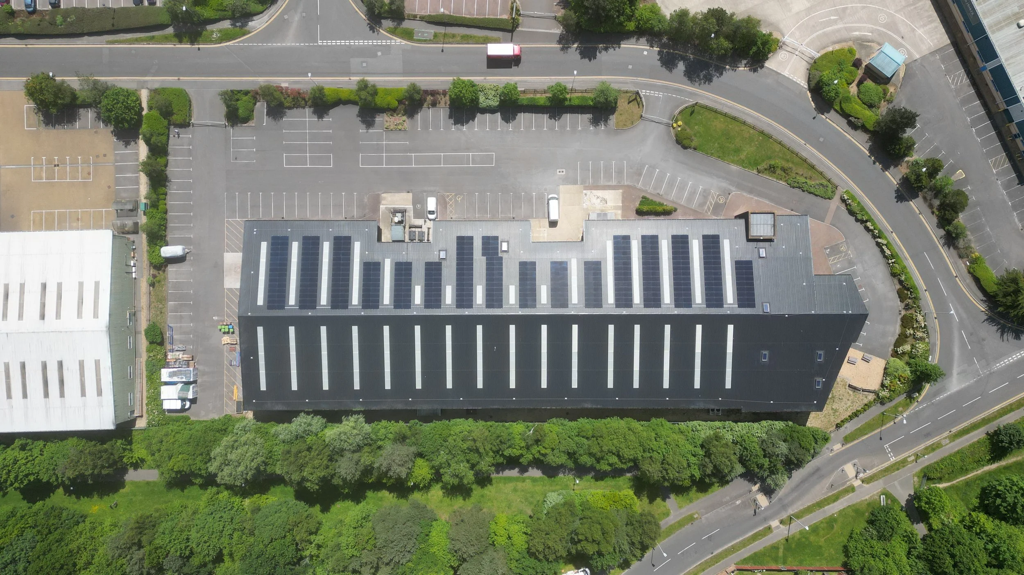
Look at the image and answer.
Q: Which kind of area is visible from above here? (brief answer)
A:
industrial area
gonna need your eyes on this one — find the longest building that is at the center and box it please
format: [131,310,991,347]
[238,211,868,419]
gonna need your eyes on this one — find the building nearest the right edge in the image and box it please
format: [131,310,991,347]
[944,0,1024,162]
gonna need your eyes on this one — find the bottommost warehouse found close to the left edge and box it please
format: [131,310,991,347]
[0,229,135,432]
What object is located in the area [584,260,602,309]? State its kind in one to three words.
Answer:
solar array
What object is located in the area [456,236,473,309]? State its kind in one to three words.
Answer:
solar array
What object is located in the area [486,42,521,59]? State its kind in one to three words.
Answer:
vehicle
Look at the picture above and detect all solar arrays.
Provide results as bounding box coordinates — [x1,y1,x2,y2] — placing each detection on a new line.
[362,261,380,310]
[584,260,602,309]
[641,235,661,309]
[703,234,723,309]
[393,261,412,310]
[424,261,442,309]
[671,234,692,309]
[735,259,755,309]
[299,235,320,310]
[613,234,632,309]
[330,235,351,310]
[267,236,288,310]
[519,261,536,309]
[456,236,473,309]
[550,261,568,309]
